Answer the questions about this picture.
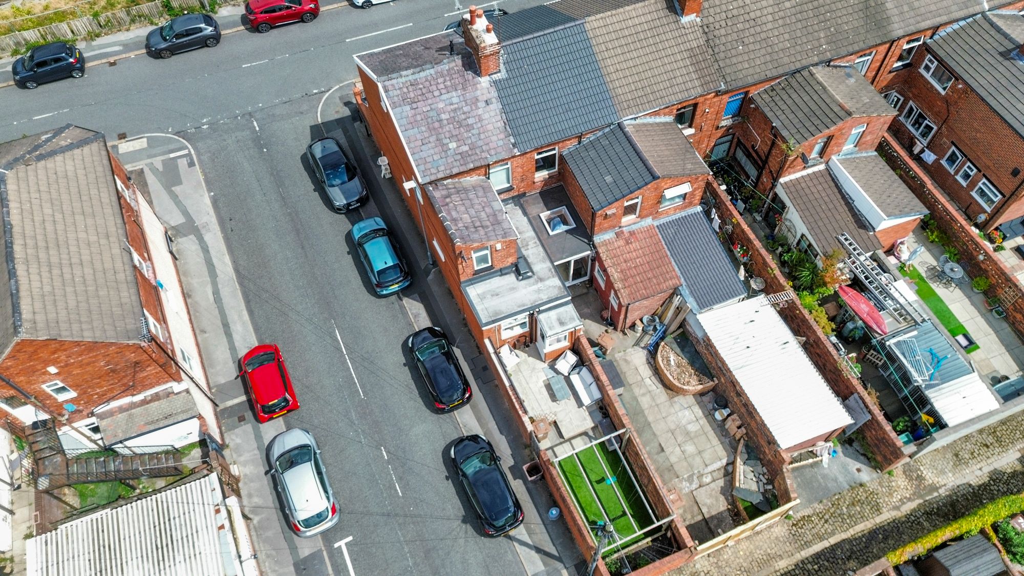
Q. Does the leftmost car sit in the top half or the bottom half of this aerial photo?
top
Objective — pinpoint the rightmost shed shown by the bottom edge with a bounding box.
[911,532,1014,576]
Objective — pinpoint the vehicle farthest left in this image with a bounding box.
[11,41,87,90]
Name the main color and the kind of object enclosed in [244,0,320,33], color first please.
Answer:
red car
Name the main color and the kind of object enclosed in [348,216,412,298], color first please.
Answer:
blue car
